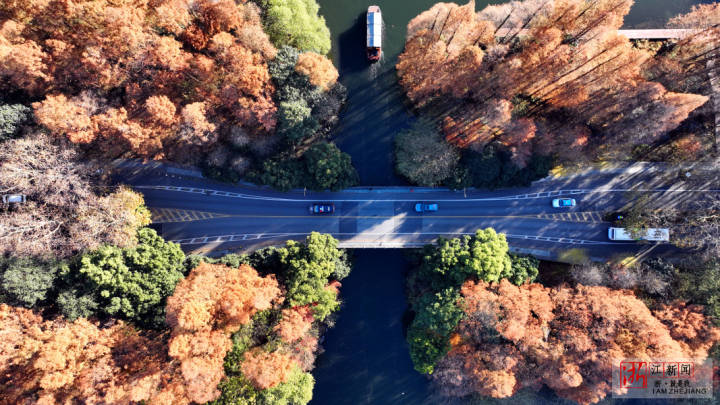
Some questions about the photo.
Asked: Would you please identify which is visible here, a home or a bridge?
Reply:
bridge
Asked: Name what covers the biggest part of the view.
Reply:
trees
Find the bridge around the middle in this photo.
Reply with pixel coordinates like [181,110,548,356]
[329,186,434,248]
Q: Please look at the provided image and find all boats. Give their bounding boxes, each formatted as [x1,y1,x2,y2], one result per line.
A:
[367,6,384,68]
